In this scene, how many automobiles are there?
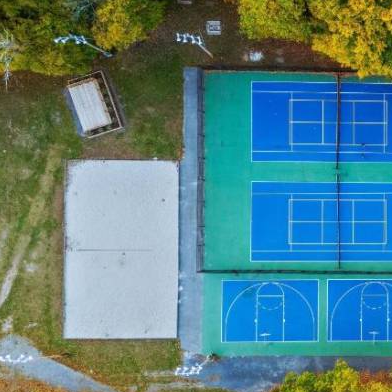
0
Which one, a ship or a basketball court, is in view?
basketball court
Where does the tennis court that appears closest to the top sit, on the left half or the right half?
right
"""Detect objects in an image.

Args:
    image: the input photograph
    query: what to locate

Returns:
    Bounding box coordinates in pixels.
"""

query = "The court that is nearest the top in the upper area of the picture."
[251,82,392,163]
